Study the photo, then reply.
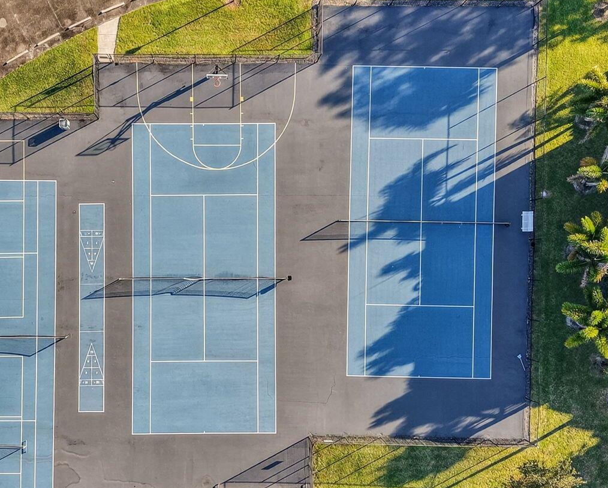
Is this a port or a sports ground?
sports ground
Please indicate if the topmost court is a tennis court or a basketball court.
basketball court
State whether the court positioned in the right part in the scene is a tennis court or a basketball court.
tennis court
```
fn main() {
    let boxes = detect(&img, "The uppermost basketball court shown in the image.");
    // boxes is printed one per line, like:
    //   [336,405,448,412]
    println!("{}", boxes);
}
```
[137,62,296,170]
